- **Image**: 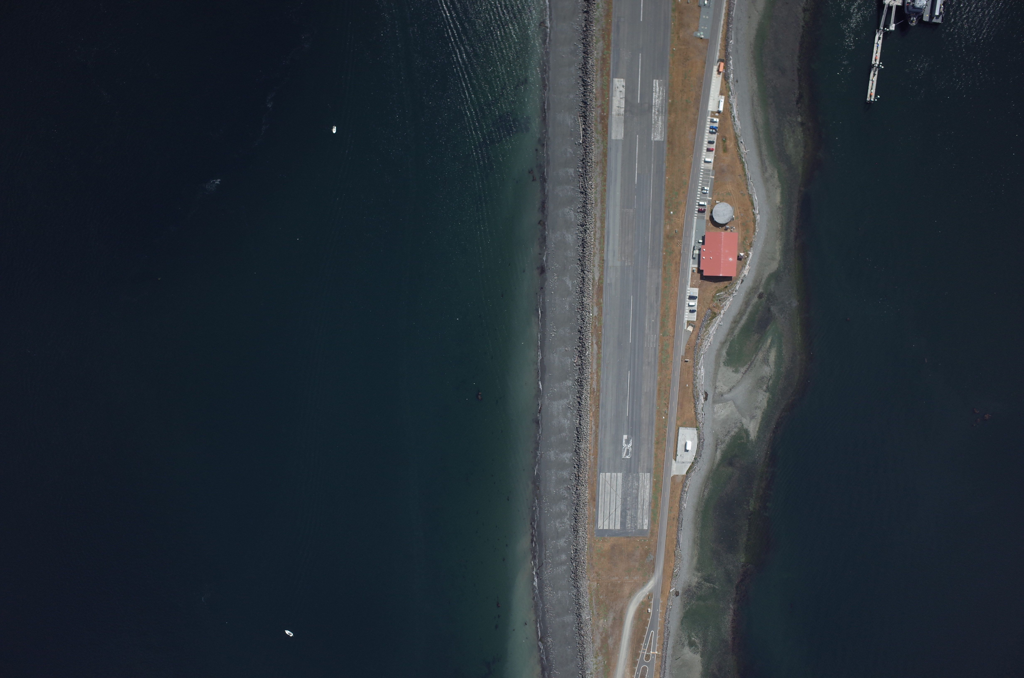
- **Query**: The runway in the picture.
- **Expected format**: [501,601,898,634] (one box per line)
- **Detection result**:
[595,0,672,537]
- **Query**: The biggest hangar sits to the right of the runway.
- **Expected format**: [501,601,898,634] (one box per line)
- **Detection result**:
[699,232,738,276]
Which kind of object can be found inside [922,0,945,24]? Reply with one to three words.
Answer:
ship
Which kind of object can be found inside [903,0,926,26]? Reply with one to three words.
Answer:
ship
